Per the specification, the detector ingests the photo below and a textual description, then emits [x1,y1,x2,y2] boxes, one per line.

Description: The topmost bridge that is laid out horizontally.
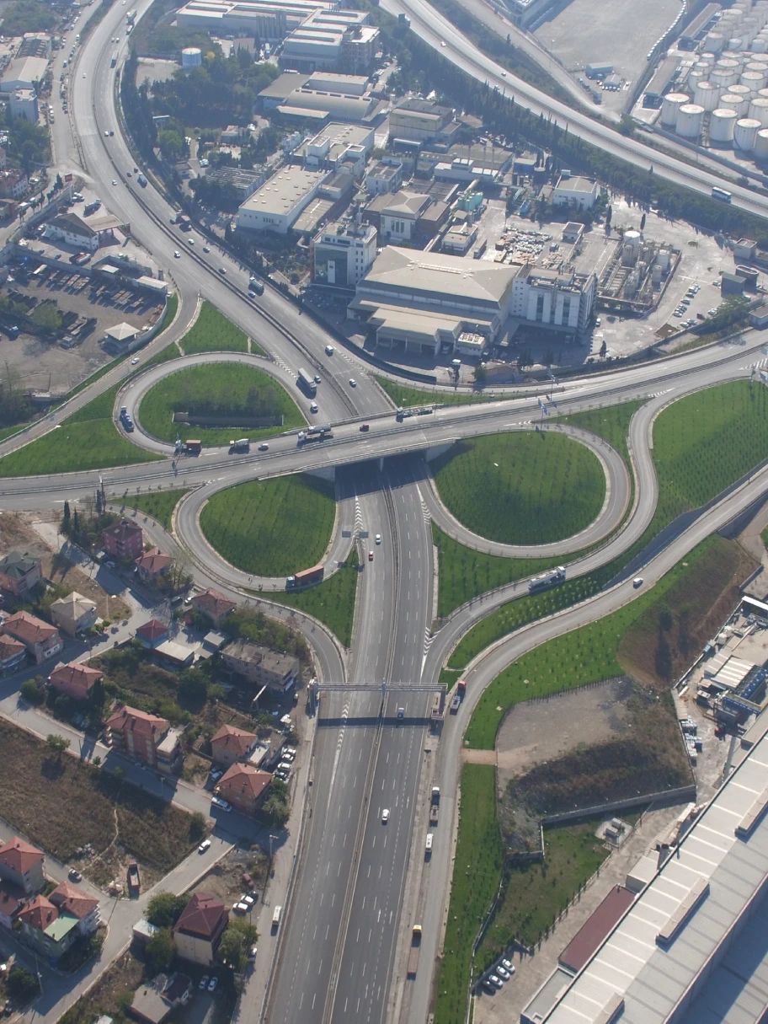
[291,398,462,481]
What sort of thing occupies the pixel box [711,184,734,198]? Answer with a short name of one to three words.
vehicle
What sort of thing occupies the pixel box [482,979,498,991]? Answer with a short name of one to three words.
vehicle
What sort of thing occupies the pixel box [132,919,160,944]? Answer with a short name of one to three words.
shed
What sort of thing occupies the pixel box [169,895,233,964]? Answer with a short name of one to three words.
house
